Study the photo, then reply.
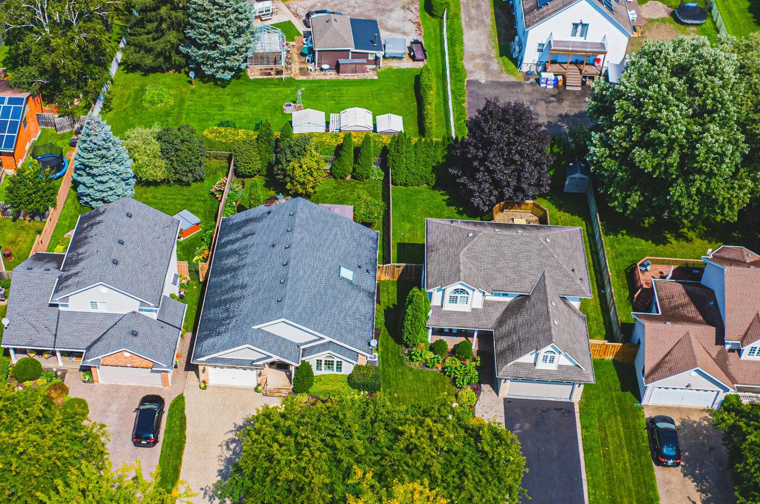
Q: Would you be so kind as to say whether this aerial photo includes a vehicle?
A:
Yes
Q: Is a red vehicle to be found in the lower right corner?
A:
No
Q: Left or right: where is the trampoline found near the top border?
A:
right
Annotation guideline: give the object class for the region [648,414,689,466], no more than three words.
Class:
car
